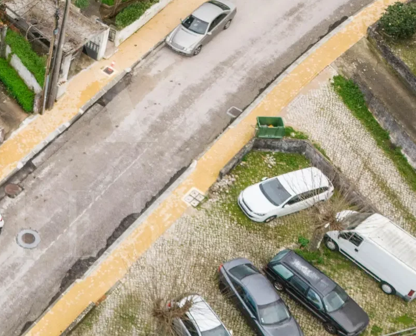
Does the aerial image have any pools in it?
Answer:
No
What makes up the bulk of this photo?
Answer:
paved ground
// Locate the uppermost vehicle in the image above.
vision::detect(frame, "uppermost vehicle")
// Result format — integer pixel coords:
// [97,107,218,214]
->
[168,0,238,58]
